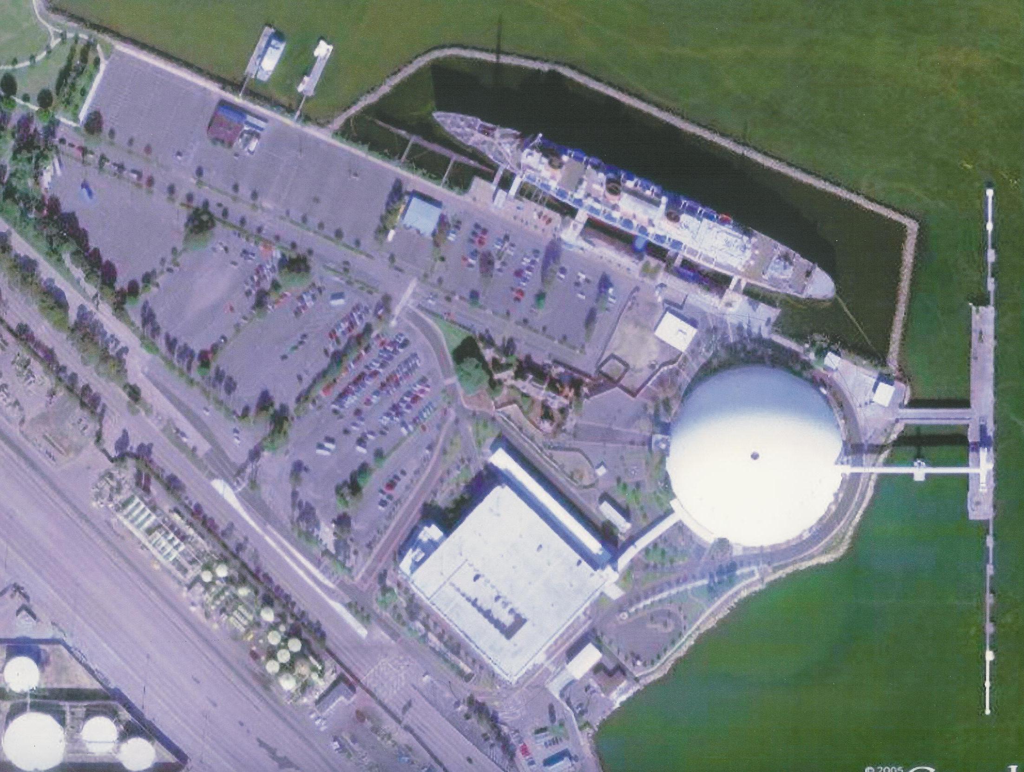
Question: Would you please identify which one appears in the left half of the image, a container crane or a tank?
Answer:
tank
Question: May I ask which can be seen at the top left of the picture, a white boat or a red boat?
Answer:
white boat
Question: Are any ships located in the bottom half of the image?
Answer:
No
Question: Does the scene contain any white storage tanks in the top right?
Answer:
No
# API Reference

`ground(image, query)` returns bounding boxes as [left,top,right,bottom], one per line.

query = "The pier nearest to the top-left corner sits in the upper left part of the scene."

[243,27,275,90]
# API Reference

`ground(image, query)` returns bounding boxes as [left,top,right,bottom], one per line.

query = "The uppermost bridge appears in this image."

[899,408,972,424]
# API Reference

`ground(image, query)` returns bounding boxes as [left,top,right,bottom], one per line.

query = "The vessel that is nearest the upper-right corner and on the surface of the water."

[432,112,836,298]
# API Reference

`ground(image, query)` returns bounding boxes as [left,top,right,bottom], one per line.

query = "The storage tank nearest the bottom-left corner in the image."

[2,712,65,772]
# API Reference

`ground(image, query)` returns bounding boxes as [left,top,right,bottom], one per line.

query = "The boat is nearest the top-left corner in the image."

[257,38,285,82]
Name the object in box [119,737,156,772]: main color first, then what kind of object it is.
white storage tank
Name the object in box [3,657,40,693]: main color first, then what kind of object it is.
white storage tank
